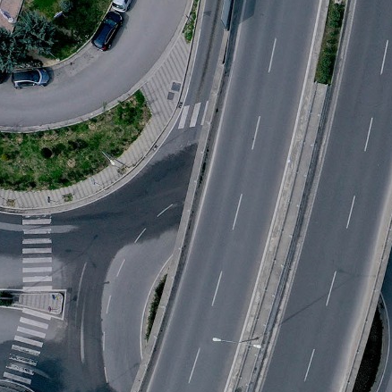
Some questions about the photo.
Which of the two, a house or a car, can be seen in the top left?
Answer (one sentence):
It is a car that can be seen in the top left.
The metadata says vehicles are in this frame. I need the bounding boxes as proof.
[0,67,8,84]
[113,0,132,13]
[93,10,123,52]
[13,67,54,88]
